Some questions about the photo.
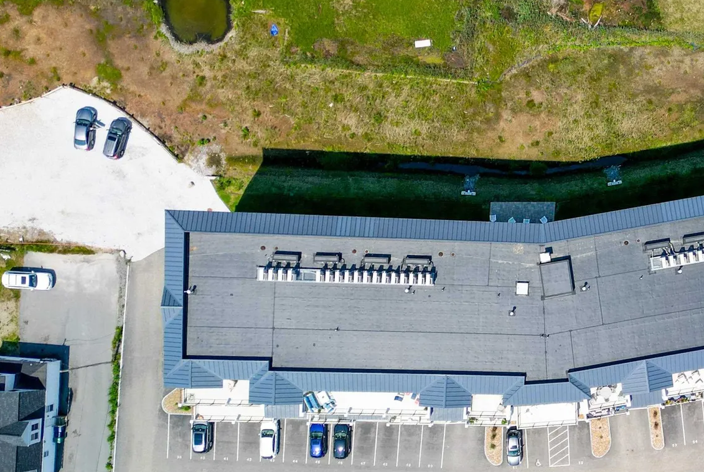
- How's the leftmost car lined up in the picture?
from left to right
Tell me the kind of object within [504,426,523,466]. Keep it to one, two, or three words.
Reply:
car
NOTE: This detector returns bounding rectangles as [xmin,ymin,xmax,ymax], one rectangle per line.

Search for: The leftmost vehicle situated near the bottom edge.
[191,419,212,454]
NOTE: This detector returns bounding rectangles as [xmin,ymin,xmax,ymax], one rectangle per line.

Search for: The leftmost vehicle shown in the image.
[6,270,50,290]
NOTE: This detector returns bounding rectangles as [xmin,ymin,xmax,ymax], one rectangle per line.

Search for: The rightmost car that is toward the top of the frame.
[103,118,132,159]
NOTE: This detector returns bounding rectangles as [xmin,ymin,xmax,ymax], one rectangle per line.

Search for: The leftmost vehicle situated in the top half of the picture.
[76,109,102,150]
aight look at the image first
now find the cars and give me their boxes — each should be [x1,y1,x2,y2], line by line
[6,270,50,290]
[191,419,212,454]
[76,109,102,150]
[504,426,523,466]
[259,421,279,458]
[307,422,326,456]
[332,422,350,457]
[103,118,132,159]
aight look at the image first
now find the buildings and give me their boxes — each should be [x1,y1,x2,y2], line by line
[0,353,62,472]
[160,195,704,430]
